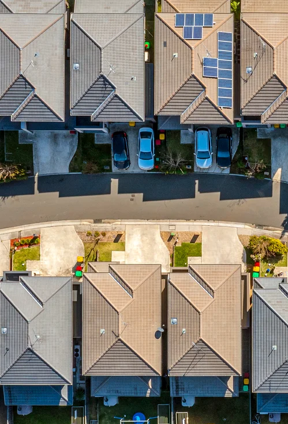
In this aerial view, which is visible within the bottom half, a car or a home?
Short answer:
home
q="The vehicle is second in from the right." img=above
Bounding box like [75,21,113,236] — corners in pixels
[194,127,213,168]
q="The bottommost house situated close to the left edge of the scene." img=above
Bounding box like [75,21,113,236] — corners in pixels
[0,268,81,406]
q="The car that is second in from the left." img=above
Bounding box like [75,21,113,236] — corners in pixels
[137,128,154,168]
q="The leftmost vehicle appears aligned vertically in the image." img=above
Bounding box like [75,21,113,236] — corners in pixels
[112,133,130,170]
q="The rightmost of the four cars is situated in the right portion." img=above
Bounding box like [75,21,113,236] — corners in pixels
[215,127,233,168]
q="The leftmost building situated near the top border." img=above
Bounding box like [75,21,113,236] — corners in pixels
[0,0,69,136]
